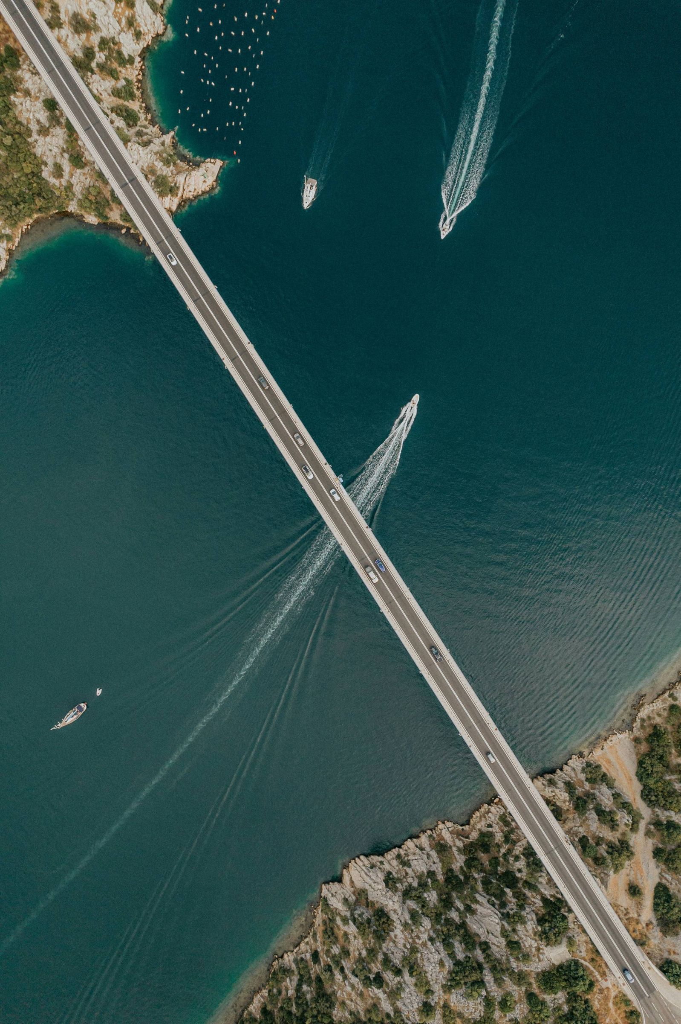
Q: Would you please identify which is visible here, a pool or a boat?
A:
boat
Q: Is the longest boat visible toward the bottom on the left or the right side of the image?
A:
left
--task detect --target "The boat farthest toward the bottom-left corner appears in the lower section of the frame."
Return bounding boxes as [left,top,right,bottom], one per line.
[50,703,88,735]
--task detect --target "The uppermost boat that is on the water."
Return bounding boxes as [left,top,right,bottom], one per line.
[303,172,316,208]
